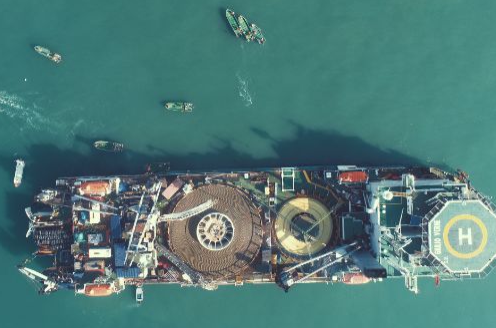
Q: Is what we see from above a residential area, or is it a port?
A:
port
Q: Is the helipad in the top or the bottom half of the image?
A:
bottom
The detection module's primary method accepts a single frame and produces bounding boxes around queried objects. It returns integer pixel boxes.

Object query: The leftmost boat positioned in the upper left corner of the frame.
[32,45,62,64]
